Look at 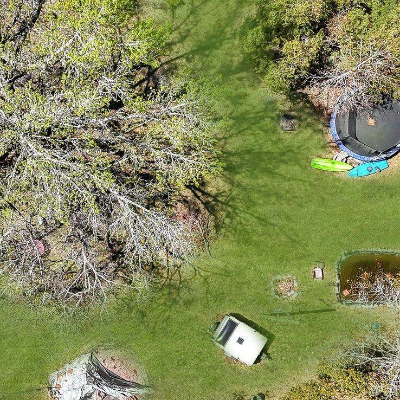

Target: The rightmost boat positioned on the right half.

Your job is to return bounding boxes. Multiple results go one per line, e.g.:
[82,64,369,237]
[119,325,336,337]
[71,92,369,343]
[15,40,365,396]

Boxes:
[346,159,389,177]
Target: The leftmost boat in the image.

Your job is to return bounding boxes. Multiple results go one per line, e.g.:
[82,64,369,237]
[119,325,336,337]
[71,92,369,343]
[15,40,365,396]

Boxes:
[309,158,353,171]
